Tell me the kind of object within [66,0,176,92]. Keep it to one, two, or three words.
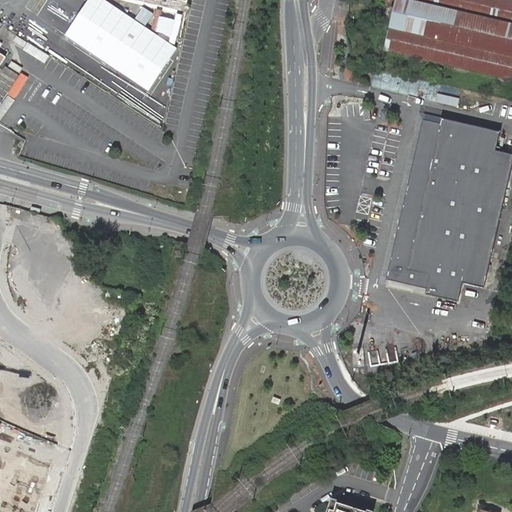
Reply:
building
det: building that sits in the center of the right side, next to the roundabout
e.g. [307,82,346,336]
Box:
[385,119,512,301]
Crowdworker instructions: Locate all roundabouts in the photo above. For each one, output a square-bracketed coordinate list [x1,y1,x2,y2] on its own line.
[242,228,349,334]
